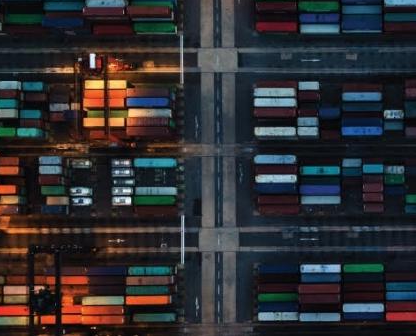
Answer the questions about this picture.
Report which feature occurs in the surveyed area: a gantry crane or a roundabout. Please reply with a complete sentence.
It is a gantry crane that can be seen here.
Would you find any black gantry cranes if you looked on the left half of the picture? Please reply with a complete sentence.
Yes, a black gantry crane appears on the left half of the picture.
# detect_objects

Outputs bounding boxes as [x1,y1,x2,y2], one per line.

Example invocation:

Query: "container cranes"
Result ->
[26,245,95,336]
[74,49,138,150]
